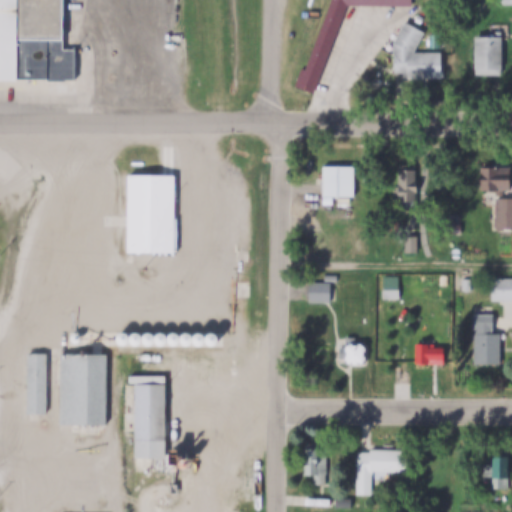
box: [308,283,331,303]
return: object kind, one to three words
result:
building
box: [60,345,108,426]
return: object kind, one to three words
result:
shed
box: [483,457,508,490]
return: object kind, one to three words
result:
house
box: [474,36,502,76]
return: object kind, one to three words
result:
house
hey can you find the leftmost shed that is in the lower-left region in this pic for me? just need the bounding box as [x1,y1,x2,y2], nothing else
[27,353,47,415]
